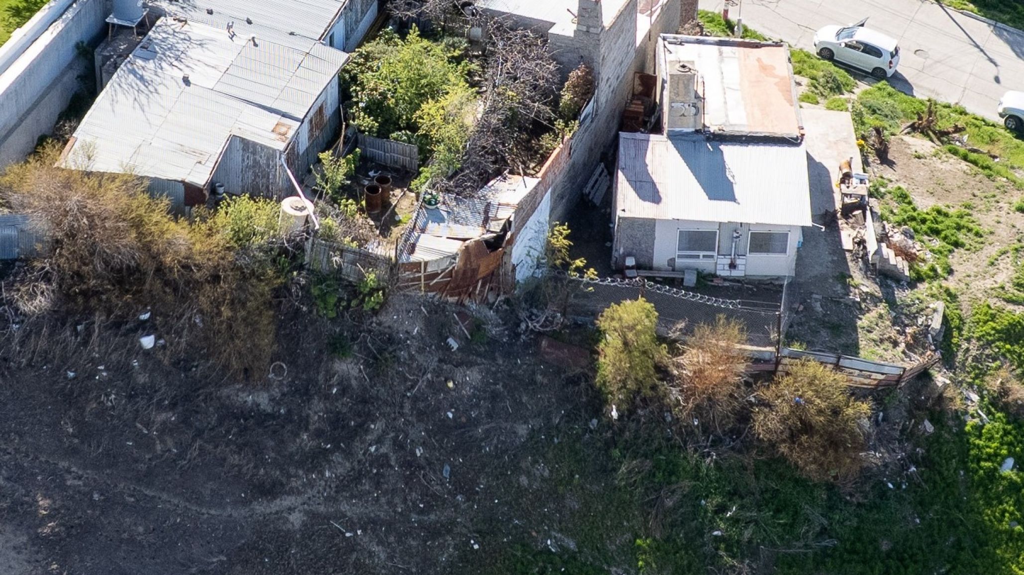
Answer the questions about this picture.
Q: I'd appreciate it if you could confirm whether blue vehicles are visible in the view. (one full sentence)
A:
No, there is no blue vehicle in the image.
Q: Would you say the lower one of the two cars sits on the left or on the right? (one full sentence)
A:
The lower one of the two cars is on the right side of the image.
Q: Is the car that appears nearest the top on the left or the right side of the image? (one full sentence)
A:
You can find the car that appears nearest the top on the right side of the picture.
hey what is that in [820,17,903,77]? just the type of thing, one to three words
car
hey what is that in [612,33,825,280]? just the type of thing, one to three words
house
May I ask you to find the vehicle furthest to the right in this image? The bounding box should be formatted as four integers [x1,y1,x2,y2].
[1000,90,1024,128]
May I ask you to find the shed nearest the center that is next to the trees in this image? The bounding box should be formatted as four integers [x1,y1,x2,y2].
[396,175,536,320]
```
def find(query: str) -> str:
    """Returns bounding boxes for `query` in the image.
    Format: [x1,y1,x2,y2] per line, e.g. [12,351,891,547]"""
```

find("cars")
[1000,90,1024,128]
[820,17,903,77]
